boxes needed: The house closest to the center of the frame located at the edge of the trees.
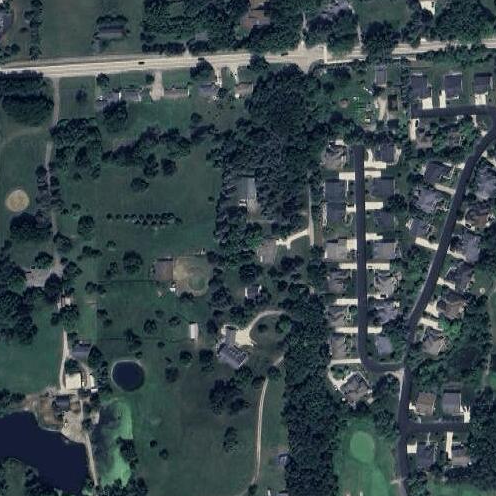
[257,239,276,264]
